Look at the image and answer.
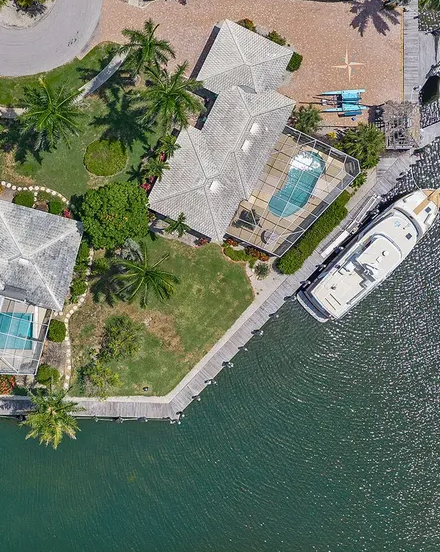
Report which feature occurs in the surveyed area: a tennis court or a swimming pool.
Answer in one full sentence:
The one in the frame is a swimming pool.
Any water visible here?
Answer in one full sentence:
Yes, water can be seen from above here.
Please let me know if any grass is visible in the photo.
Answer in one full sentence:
Yes, there's grass in this view.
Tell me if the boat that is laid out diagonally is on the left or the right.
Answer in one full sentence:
The boat that is laid out diagonally is on the right side of the image.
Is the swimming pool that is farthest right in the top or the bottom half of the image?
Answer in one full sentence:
You can find the swimming pool that is farthest right in the top half.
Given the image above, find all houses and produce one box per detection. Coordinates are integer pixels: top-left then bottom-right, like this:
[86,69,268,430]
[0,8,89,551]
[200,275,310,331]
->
[149,19,296,242]
[0,200,82,311]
